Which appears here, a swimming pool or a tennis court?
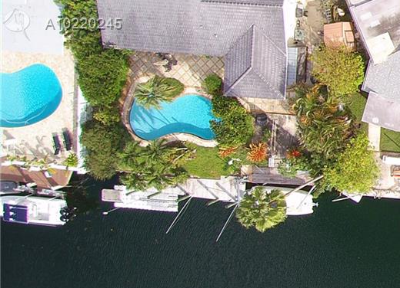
swimming pool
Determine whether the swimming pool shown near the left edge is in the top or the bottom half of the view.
top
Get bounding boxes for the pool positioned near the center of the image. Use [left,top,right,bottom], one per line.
[125,90,220,144]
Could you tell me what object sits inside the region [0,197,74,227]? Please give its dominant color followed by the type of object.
white boat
